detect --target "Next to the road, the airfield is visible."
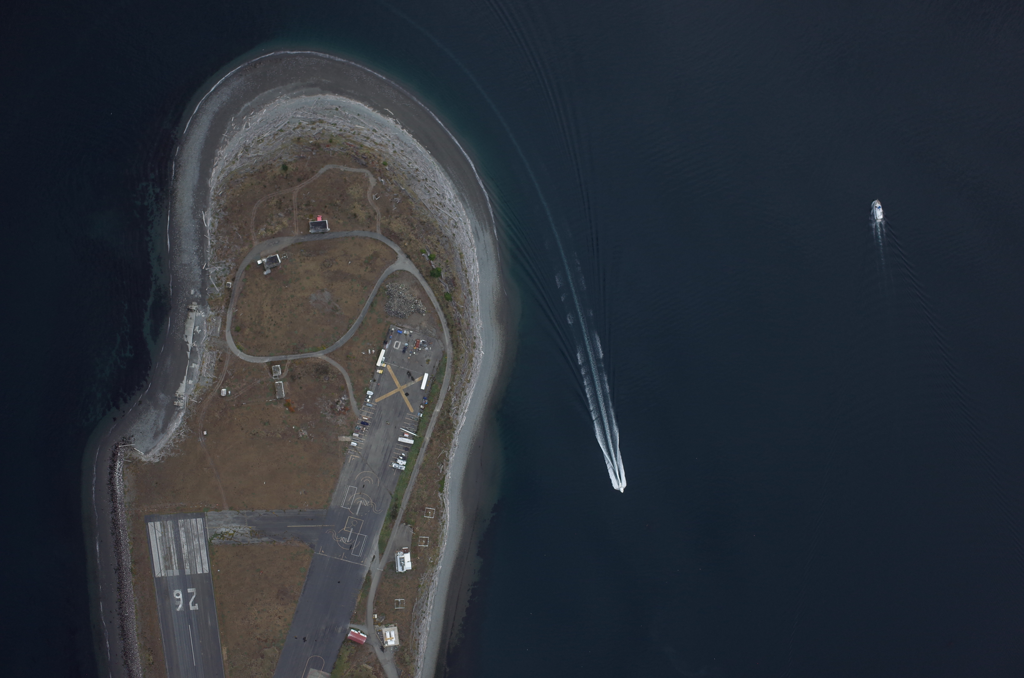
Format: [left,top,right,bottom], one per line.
[145,325,443,678]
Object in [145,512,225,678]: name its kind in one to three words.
runway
